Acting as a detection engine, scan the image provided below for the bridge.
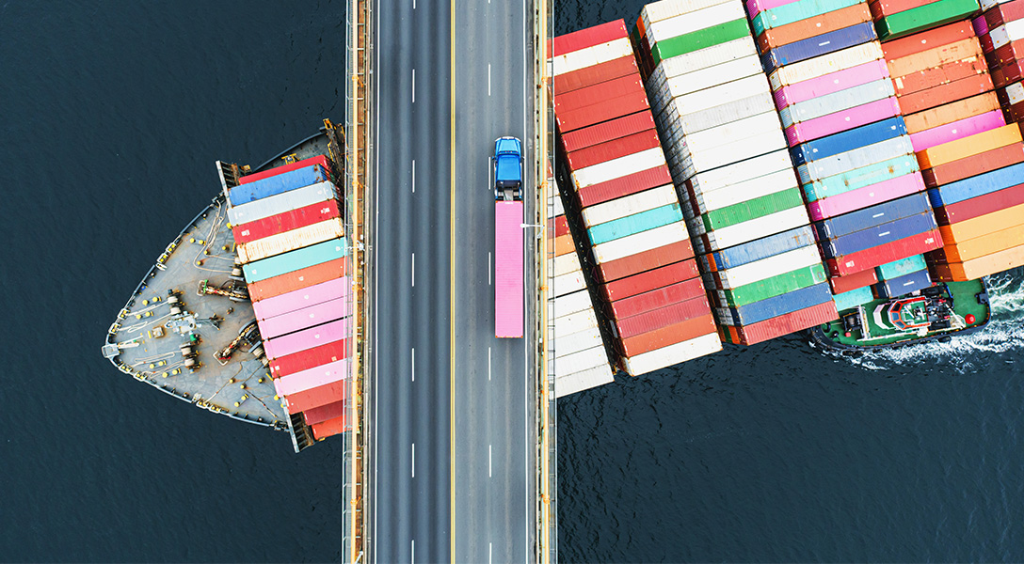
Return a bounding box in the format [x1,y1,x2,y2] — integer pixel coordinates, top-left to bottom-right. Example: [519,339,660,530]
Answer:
[342,0,558,564]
